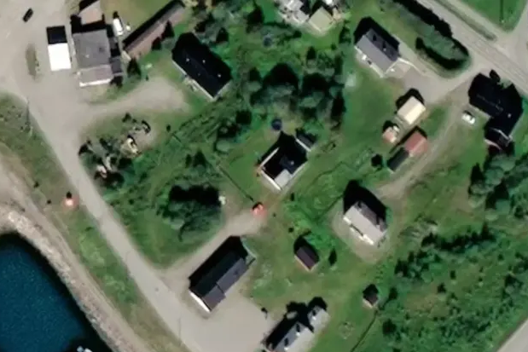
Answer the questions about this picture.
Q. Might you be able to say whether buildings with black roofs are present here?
Yes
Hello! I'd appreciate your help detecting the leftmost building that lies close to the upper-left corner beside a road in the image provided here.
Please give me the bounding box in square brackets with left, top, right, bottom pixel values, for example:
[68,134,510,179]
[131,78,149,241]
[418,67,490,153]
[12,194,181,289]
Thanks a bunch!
[46,43,71,76]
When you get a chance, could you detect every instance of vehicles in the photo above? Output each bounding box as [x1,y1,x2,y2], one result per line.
[112,19,121,36]
[22,9,32,21]
[463,113,474,123]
